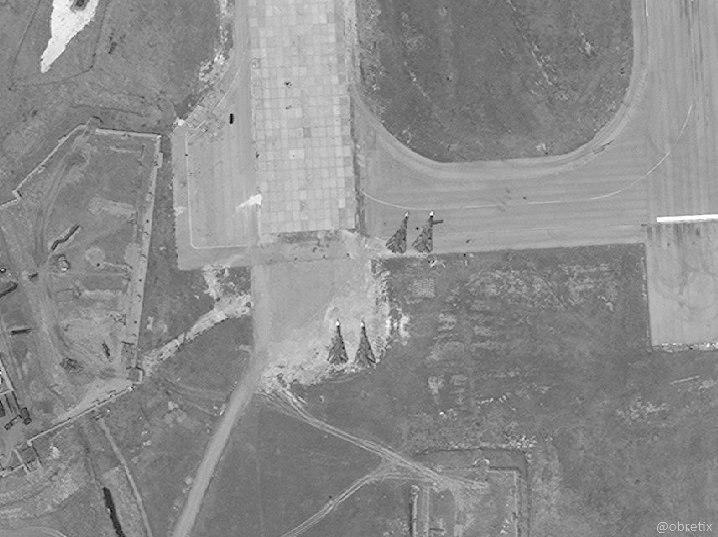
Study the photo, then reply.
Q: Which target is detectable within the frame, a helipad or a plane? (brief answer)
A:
plane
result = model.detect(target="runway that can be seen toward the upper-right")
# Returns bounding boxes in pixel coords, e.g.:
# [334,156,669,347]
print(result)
[648,0,718,222]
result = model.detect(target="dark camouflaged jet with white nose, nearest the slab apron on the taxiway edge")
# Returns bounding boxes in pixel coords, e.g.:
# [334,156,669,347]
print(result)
[387,214,407,255]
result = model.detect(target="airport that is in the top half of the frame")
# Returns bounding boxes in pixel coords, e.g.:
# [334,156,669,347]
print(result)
[173,0,718,391]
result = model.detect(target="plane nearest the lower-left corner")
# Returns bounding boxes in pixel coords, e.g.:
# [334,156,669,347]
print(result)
[328,322,348,363]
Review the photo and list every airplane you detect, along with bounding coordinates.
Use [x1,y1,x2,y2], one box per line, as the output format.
[413,212,433,254]
[387,214,407,255]
[355,321,375,364]
[328,322,348,363]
